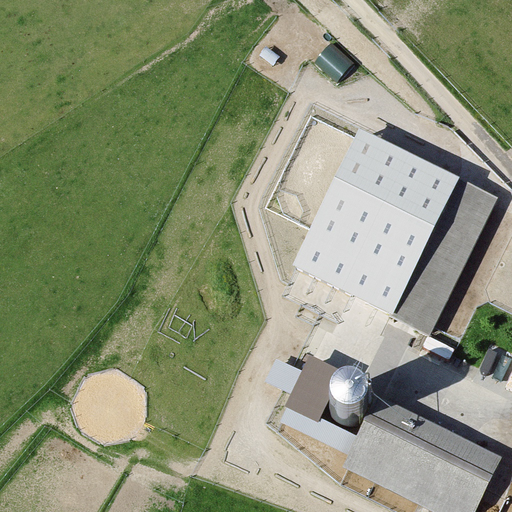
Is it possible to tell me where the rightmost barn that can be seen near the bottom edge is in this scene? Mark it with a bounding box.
[342,394,502,512]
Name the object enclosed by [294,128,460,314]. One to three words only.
barn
